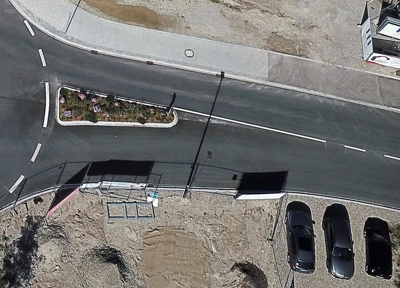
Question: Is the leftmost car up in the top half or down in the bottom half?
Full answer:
It is in the bottom half that the leftmost car appears.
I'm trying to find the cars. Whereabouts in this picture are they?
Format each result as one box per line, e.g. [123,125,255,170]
[361,215,400,285]
[323,206,365,283]
[282,206,329,279]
